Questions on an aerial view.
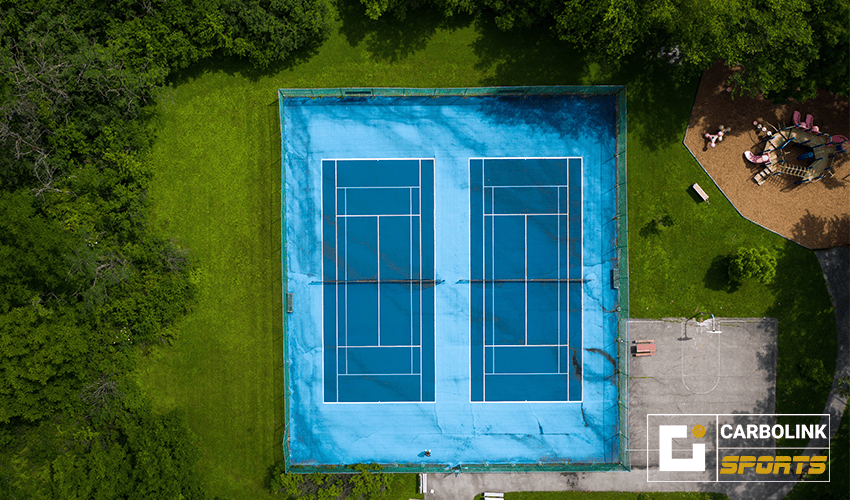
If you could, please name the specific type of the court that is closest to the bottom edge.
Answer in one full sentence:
The court that is closest to the bottom edge is a basketball court.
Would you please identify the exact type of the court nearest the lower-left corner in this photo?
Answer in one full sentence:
In the photo, the court nearest the lower-left corner shows up as a tennis court.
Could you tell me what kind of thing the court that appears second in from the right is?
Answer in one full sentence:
From above, the court that appears second in from the right can be identified as a tennis court.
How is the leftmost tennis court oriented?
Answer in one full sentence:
The leftmost tennis court has been laid out vertically relative to the frame.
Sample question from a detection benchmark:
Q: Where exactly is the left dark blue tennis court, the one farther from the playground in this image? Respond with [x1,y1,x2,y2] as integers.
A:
[321,159,436,404]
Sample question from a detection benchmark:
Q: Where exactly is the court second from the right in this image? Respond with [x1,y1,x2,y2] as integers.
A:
[469,157,584,403]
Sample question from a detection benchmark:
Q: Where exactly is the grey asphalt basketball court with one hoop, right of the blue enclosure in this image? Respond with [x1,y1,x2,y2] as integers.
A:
[621,318,776,473]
